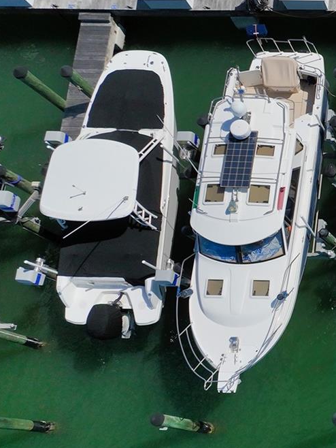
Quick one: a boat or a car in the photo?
boat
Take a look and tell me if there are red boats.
No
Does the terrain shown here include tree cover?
No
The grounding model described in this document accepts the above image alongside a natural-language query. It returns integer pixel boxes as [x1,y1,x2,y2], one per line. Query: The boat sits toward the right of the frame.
[177,24,334,393]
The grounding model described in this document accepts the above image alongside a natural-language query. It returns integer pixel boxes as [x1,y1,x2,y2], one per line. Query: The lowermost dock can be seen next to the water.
[64,10,127,140]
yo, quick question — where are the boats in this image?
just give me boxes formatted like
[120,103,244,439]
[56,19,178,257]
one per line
[177,24,334,393]
[40,50,202,341]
